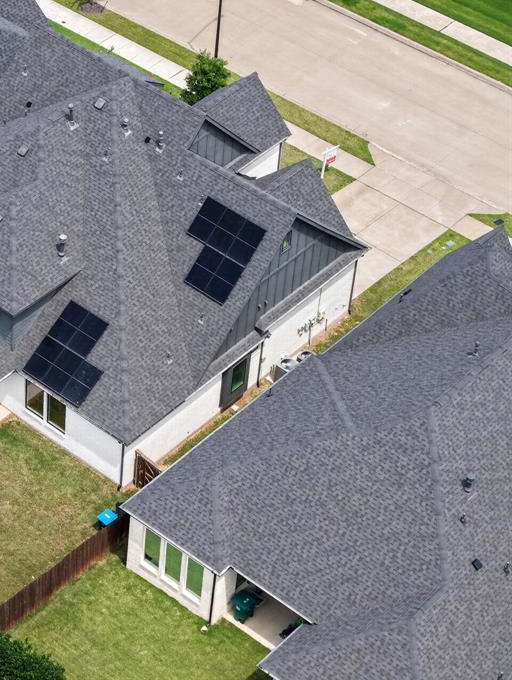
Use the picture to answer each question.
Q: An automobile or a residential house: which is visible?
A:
residential house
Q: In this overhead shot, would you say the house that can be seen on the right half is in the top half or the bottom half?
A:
bottom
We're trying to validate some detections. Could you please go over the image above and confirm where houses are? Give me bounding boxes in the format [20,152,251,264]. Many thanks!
[119,225,512,680]
[0,23,369,492]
